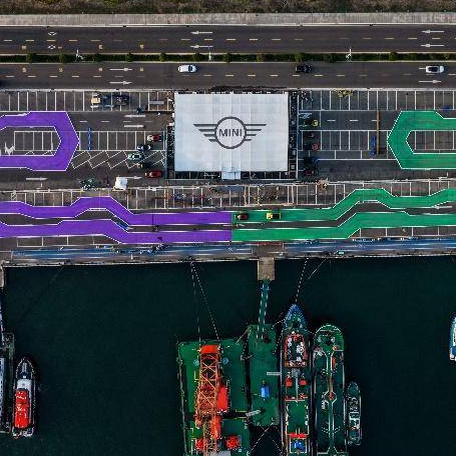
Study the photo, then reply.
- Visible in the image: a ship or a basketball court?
ship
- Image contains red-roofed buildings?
No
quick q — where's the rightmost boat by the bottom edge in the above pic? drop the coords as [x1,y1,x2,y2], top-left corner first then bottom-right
[347,381,362,443]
